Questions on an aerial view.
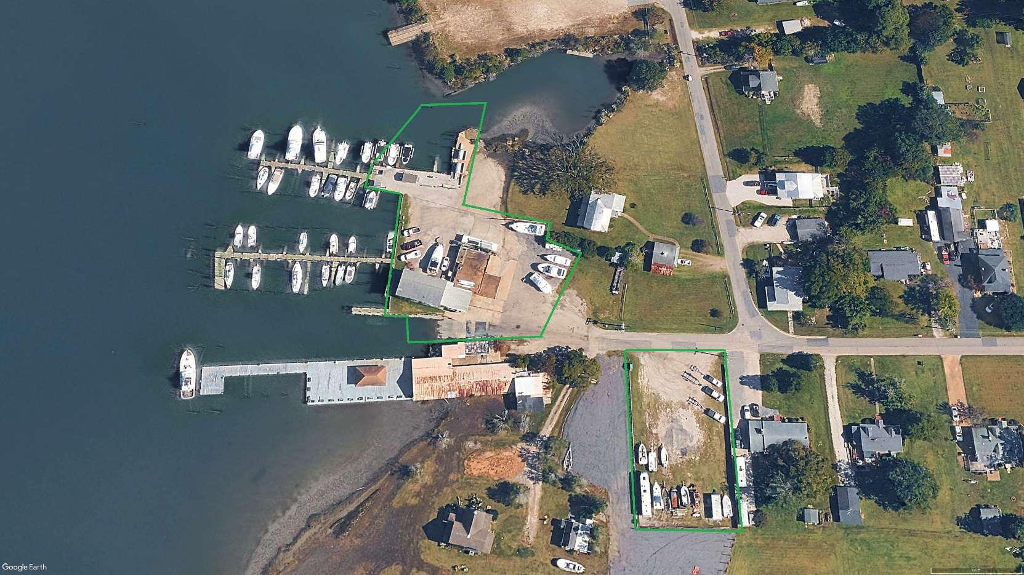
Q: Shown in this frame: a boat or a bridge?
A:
boat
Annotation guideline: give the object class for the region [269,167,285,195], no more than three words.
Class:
boat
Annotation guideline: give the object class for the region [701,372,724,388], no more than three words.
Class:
vehicle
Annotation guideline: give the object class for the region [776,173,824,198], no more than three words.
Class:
house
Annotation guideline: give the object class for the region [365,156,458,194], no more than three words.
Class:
pier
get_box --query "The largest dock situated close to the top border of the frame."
[388,20,435,45]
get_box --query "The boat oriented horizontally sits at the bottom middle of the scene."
[556,559,585,572]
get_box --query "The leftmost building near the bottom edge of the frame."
[447,511,494,555]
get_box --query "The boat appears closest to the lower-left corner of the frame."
[180,349,196,399]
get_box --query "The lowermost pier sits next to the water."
[351,308,444,320]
